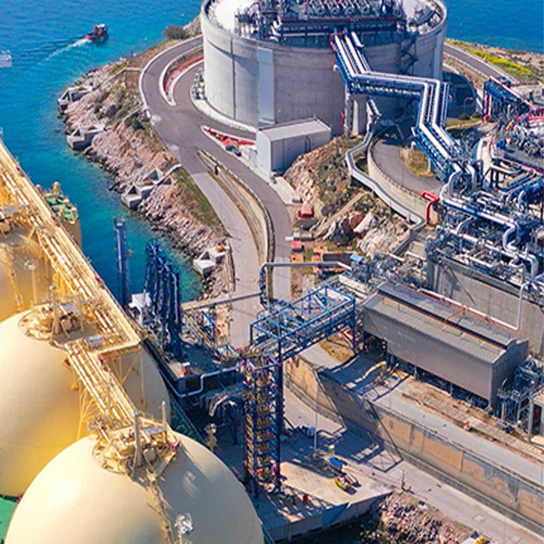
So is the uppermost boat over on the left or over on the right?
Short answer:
left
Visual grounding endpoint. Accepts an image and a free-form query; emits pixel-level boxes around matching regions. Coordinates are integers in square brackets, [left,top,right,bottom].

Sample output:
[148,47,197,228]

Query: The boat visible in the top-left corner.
[83,22,107,41]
